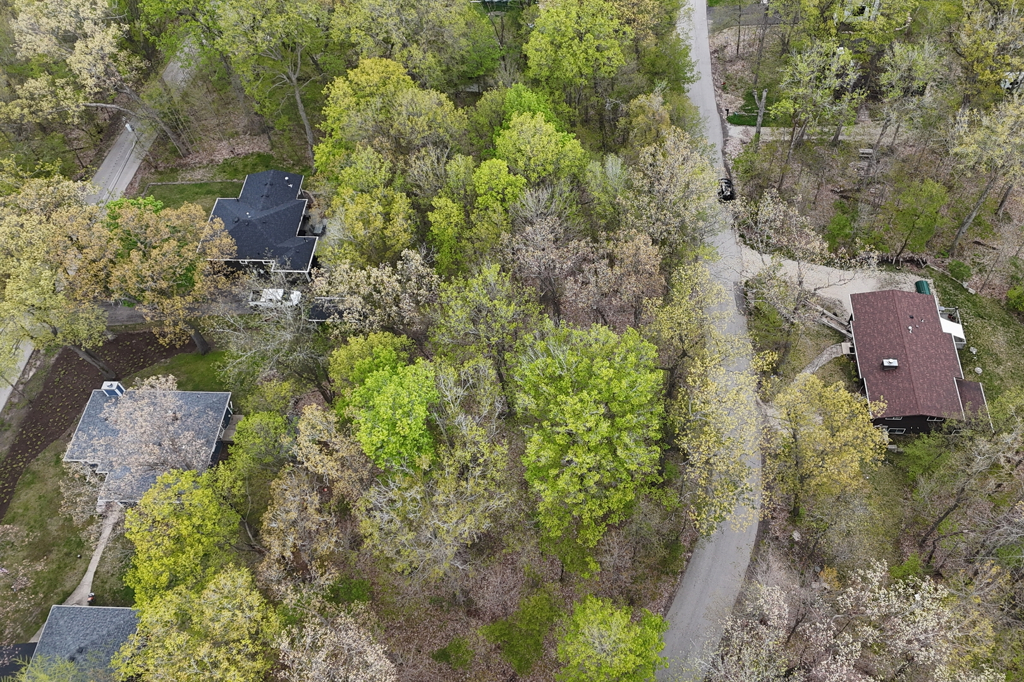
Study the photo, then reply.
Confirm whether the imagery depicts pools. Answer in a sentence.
No, I can see no pool in this picture.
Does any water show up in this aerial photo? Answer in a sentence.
No, the picture contains no water.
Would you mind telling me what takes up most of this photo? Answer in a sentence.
The largest share of the image is taken up by trees.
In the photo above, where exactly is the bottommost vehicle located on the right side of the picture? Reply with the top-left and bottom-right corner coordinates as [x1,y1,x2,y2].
[720,173,736,198]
